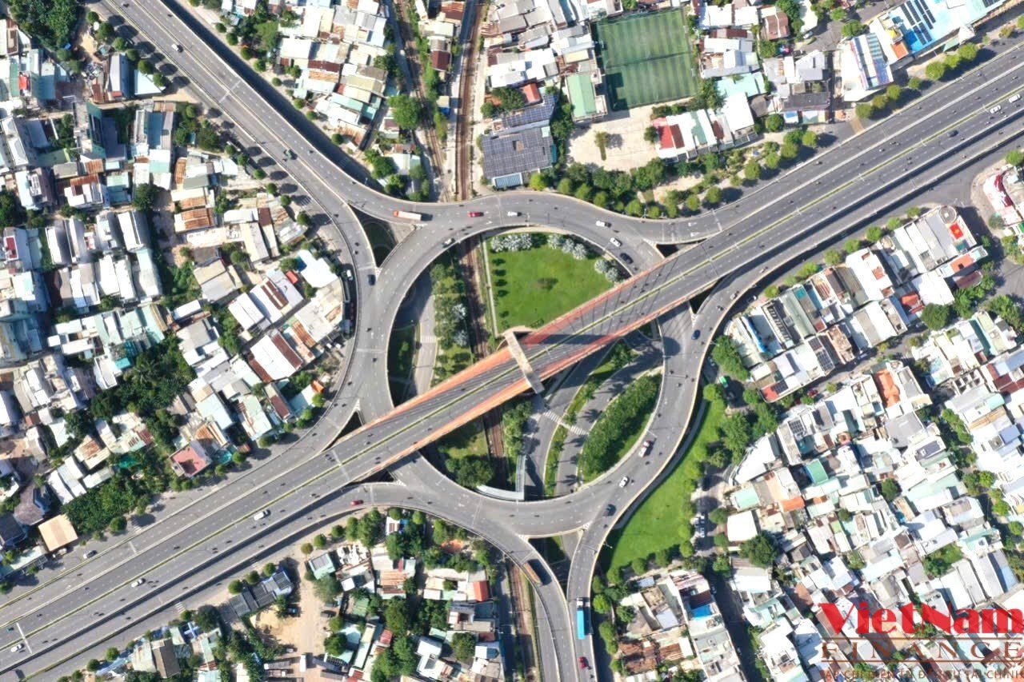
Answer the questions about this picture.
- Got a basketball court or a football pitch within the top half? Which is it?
football pitch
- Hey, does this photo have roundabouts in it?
Yes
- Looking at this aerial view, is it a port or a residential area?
residential area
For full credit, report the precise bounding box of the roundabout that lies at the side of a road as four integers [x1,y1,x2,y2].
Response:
[351,190,698,544]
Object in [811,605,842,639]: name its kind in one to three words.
house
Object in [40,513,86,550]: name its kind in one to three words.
house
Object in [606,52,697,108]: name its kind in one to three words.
soccer field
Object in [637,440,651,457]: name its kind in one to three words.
vehicle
